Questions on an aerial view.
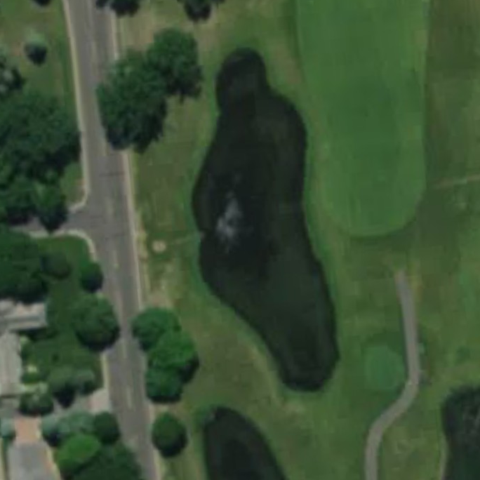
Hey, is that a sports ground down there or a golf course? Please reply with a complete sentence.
This looks like a golf course.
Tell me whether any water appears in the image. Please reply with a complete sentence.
Yes, water can be seen from above here.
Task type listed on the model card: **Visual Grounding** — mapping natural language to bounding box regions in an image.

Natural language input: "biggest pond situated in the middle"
[193,48,339,390]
